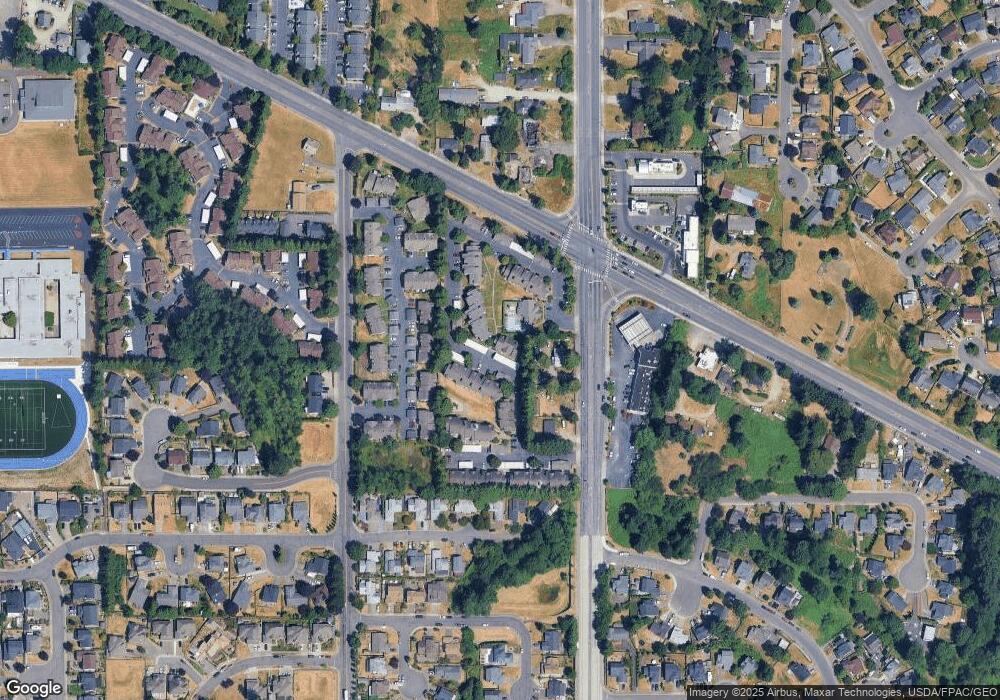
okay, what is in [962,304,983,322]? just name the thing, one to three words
house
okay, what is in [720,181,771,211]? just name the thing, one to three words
barn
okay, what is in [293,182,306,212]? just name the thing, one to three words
shed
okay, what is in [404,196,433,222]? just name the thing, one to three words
building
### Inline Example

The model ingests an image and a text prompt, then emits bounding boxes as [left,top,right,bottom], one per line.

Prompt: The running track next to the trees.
[0,367,88,470]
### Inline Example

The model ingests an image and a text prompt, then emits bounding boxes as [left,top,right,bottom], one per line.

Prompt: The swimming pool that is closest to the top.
[184,94,206,117]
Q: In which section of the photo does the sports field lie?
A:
left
